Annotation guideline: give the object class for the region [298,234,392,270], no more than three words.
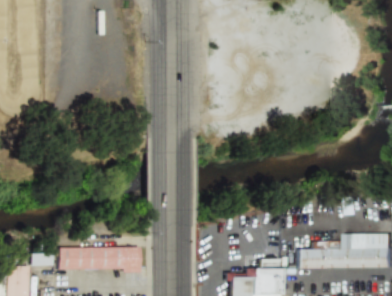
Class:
building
